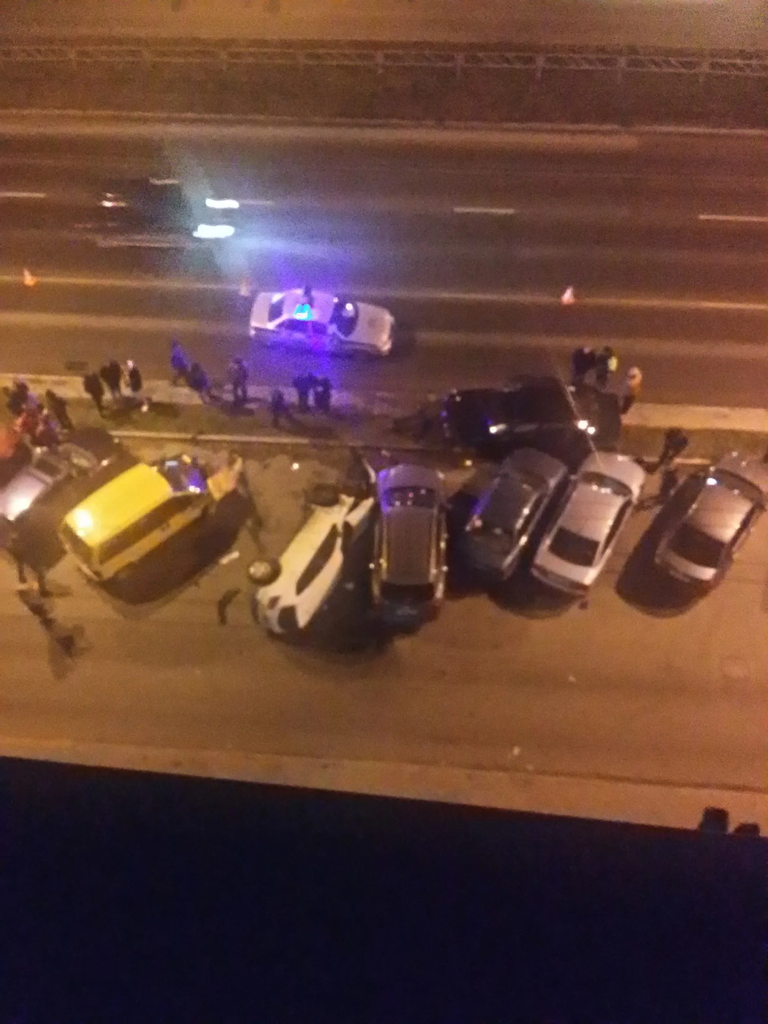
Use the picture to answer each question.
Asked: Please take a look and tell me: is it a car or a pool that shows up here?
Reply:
car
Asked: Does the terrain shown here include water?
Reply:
No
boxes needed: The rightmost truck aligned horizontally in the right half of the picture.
[437,380,621,468]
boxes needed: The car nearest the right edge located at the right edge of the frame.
[656,451,768,593]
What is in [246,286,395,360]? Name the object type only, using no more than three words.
car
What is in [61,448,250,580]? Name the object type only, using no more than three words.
van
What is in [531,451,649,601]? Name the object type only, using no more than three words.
car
